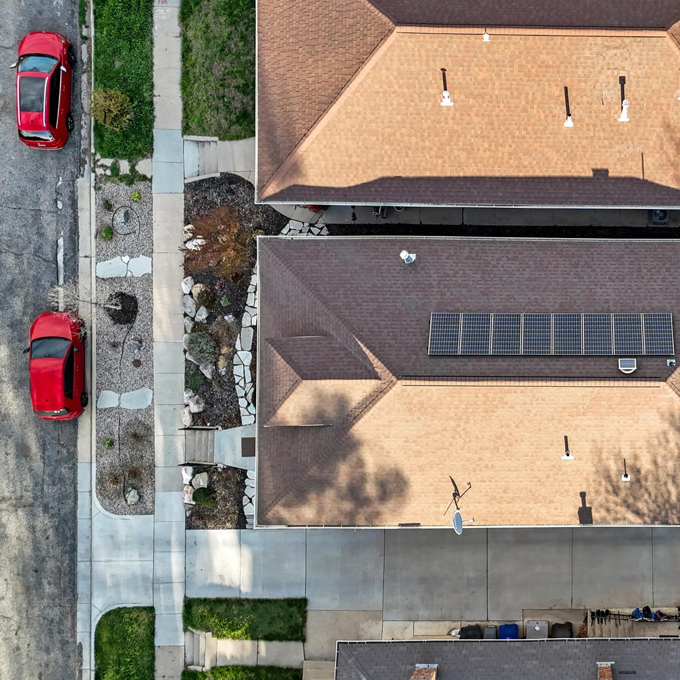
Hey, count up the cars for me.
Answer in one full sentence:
Looking from above, you can make out 2 cars.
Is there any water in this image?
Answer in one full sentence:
No, there's no water in this view.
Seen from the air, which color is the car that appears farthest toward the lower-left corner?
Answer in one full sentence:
The color of the car that appears farthest toward the lower-left corner is red.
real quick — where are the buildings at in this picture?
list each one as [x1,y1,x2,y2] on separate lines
[256,0,680,208]
[256,236,680,529]
[297,632,680,680]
